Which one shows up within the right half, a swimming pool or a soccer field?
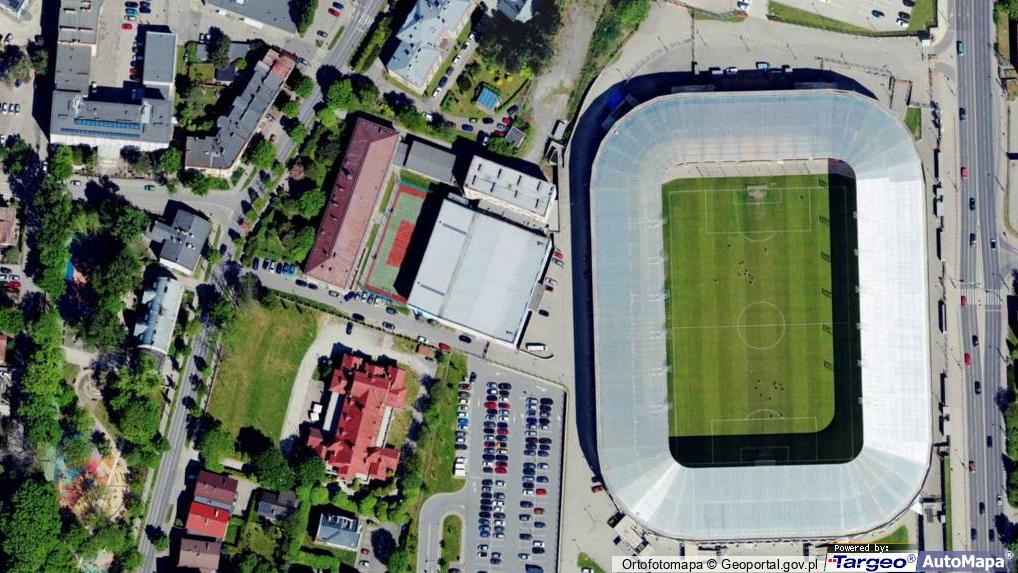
soccer field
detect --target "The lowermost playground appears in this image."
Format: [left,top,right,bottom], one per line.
[41,451,125,523]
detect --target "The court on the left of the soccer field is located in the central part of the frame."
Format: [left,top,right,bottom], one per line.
[362,176,439,306]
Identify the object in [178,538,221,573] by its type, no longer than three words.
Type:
house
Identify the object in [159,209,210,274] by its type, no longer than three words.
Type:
house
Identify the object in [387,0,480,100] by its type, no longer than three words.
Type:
building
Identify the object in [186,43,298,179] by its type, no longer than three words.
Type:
building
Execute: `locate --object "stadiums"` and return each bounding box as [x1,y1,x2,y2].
[589,85,936,546]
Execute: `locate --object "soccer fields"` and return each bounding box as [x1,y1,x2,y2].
[664,173,862,467]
